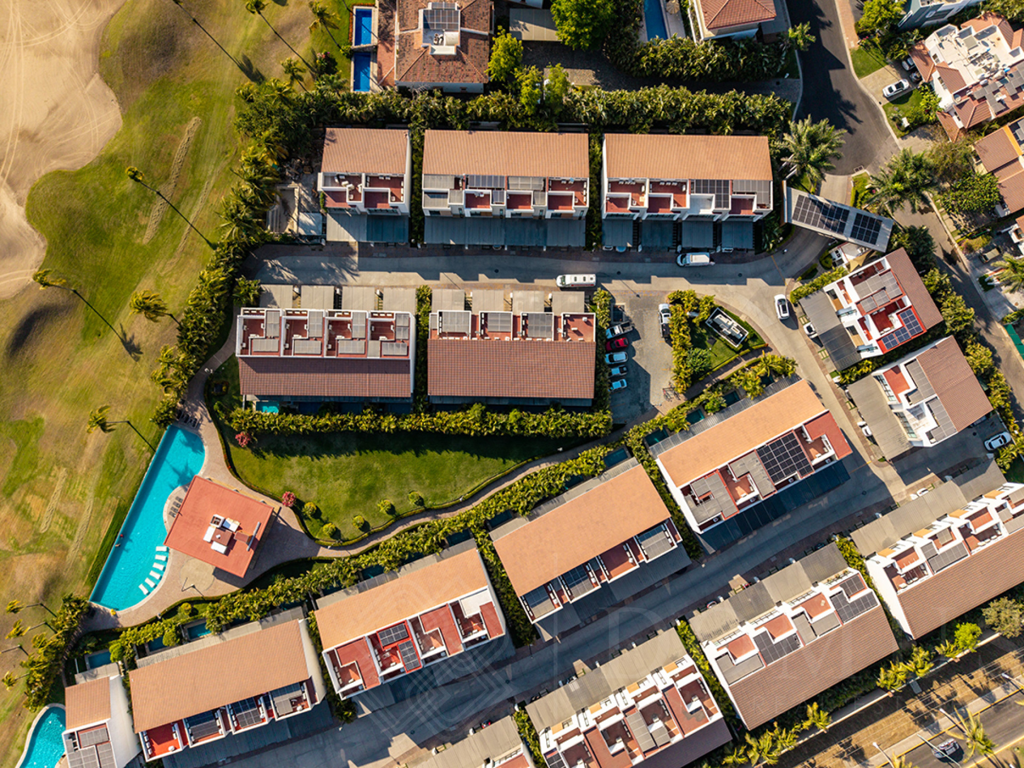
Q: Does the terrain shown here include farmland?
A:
No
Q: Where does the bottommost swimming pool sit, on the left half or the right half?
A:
left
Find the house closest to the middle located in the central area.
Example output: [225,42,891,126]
[427,290,597,404]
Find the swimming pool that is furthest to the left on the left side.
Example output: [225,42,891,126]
[13,703,66,768]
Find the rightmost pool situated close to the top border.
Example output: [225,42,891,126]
[643,0,670,43]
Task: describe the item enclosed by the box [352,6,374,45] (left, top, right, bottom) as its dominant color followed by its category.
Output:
blue swimming pool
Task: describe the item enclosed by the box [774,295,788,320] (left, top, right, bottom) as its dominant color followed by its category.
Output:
white car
